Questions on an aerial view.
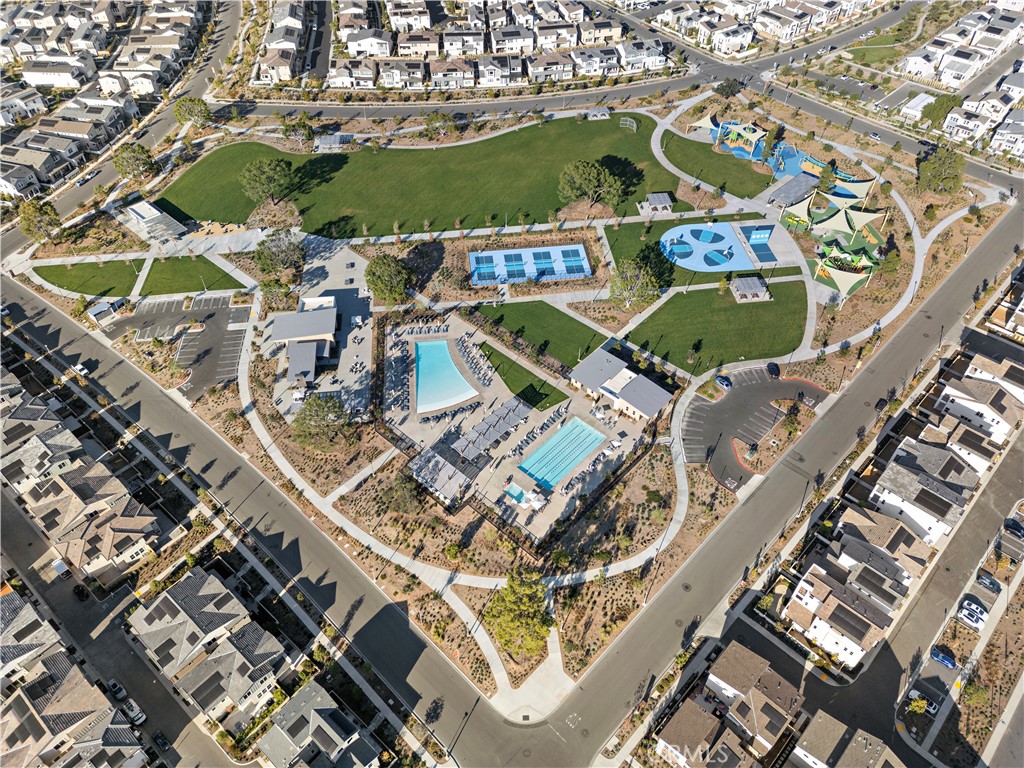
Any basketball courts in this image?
Yes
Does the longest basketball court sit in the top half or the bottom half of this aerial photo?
top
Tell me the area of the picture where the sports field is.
top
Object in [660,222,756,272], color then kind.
blue basketball court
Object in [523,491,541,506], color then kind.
white umbrella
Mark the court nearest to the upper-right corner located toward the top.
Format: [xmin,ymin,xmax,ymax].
[740,225,777,262]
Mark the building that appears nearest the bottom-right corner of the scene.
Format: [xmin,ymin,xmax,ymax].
[832,724,898,768]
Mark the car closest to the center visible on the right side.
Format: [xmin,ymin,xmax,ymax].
[717,375,733,388]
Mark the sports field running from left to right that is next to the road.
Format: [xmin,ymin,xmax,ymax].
[157,112,695,238]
